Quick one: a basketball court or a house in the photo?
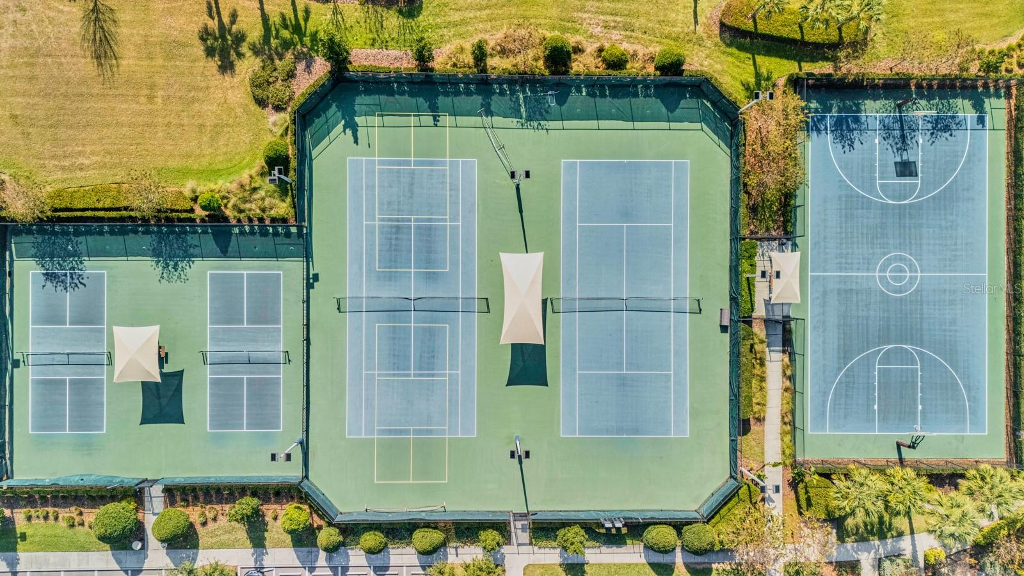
basketball court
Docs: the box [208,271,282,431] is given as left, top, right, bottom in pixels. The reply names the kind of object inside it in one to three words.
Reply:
sports court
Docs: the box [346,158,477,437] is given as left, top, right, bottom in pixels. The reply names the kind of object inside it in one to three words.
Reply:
tennis court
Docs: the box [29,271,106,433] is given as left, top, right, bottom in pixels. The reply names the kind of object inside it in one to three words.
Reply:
sports court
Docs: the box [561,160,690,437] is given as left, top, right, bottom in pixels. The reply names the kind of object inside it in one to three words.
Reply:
tennis court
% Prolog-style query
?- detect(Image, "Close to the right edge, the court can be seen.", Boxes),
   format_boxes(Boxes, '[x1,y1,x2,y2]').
[794,88,1005,459]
